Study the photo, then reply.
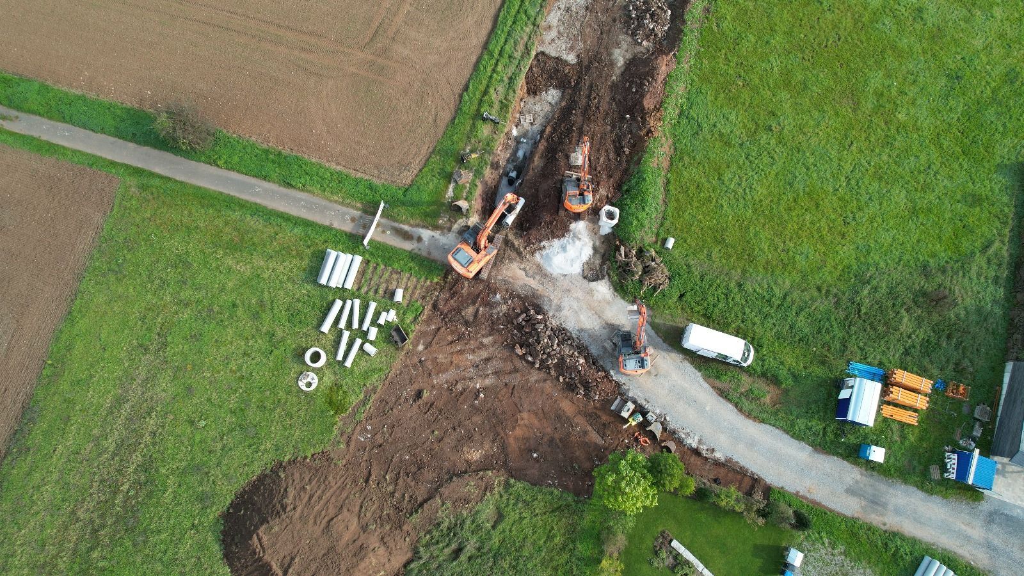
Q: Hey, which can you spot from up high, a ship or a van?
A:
van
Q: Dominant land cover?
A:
grass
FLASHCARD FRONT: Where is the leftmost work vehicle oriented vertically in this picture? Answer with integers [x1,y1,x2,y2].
[559,139,592,216]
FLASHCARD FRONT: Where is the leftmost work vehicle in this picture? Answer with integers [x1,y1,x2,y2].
[450,195,519,280]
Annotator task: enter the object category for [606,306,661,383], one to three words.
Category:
work vehicle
